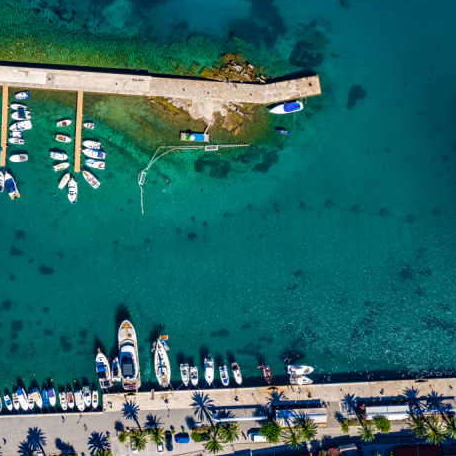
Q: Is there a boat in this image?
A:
Yes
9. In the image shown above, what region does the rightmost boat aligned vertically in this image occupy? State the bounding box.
[262,358,274,384]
